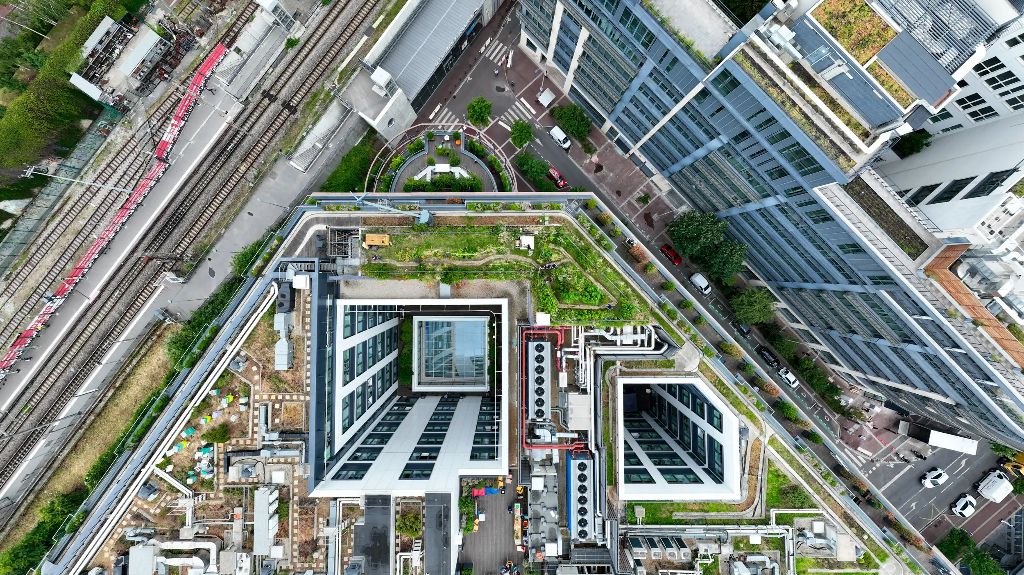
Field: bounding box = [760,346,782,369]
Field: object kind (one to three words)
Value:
car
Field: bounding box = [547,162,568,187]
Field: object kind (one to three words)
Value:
vehicle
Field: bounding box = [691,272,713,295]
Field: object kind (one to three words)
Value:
car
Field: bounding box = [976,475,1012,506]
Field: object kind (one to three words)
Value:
van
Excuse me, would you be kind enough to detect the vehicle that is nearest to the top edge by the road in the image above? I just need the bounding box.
[549,124,572,148]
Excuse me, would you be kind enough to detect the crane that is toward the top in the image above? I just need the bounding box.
[350,191,436,226]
